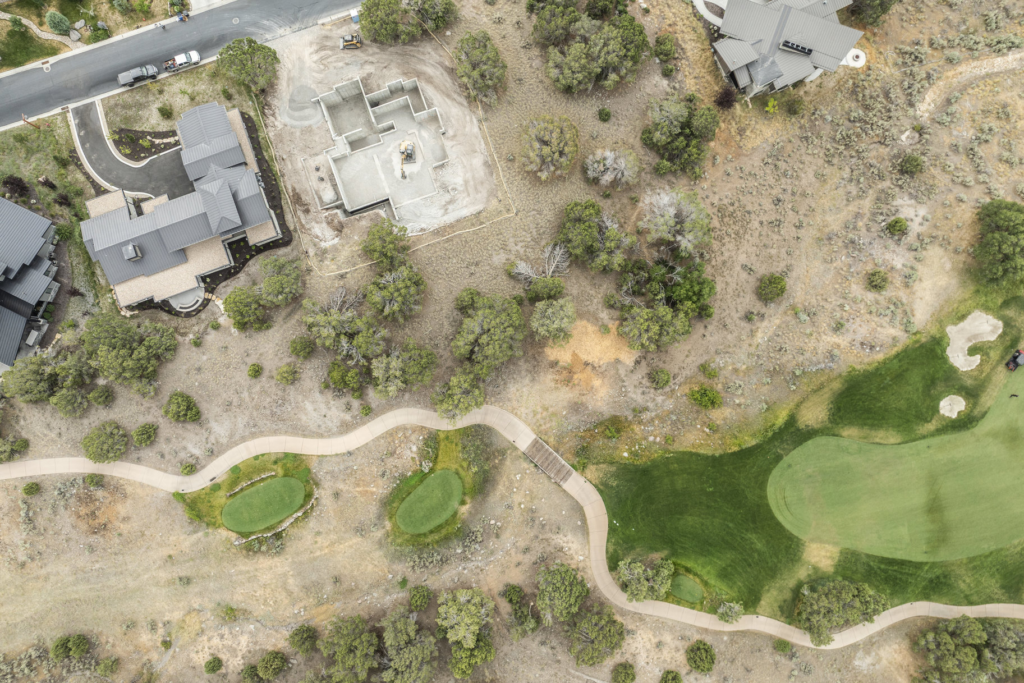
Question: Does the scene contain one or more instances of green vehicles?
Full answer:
No, the scene contains no green vehicle.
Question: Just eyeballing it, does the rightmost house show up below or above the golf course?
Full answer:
Looking at the scene, the rightmost house is located above the golf course.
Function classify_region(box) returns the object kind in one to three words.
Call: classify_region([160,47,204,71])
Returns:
truck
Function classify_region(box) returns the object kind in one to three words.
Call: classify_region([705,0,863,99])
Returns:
house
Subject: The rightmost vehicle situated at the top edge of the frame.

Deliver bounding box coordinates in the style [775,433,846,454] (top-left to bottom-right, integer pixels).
[340,32,362,49]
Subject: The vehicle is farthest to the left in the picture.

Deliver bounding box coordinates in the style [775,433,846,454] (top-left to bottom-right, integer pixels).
[112,63,158,87]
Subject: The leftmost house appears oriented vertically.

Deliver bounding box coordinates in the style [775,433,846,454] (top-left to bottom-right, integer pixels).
[0,197,73,367]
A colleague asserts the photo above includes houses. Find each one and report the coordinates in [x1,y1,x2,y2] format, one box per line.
[0,197,73,367]
[80,102,286,308]
[705,0,863,99]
